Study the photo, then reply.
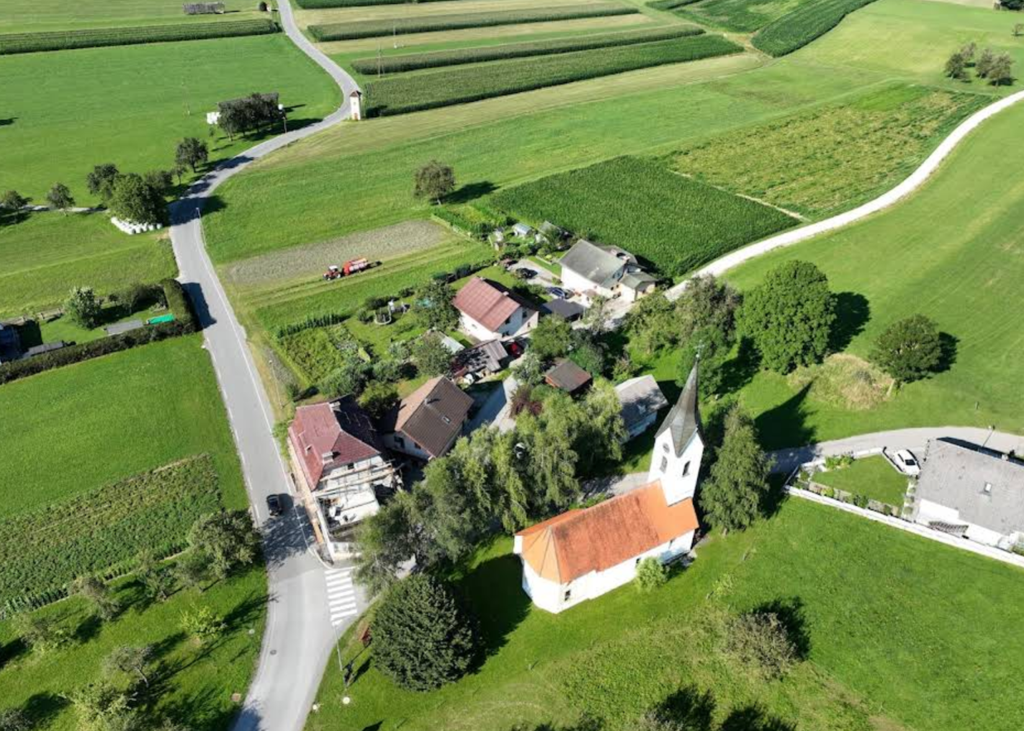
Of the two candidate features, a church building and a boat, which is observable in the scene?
church building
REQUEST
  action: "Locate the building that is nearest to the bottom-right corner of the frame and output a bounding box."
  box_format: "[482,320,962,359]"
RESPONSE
[917,423,1024,555]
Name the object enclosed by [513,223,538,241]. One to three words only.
greenhouse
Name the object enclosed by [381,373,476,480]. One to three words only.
house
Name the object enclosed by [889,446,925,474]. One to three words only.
car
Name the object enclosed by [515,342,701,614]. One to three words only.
church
